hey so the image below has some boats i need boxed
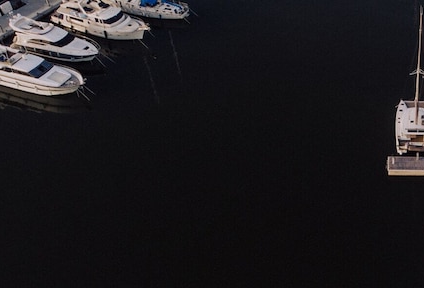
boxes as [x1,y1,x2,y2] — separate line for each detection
[102,0,192,24]
[393,2,424,156]
[1,2,110,62]
[0,45,96,97]
[43,0,161,44]
[404,144,424,152]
